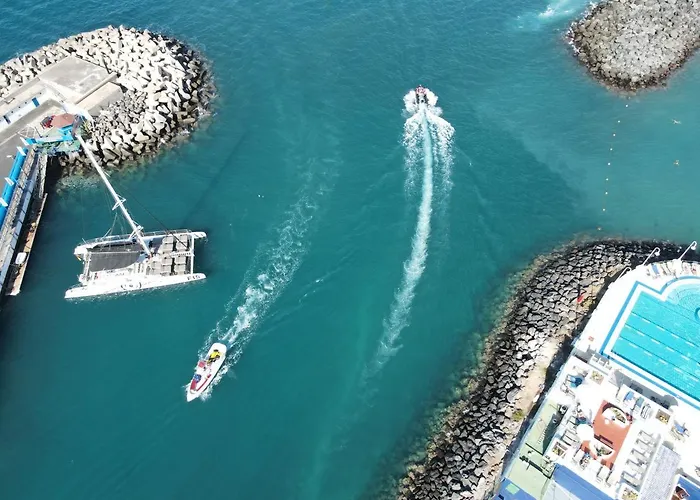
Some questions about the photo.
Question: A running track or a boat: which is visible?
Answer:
boat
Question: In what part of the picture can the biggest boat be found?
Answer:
left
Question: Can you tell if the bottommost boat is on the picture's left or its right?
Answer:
left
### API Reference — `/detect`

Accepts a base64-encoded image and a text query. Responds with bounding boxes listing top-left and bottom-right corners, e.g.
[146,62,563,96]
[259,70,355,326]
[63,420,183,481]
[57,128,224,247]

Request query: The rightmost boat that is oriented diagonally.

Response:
[187,341,232,402]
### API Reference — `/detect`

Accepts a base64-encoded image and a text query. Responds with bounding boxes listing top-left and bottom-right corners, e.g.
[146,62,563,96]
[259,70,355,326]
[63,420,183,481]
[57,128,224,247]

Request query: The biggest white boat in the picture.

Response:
[64,140,211,300]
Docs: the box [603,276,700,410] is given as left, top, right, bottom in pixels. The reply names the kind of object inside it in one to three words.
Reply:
swimming pool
